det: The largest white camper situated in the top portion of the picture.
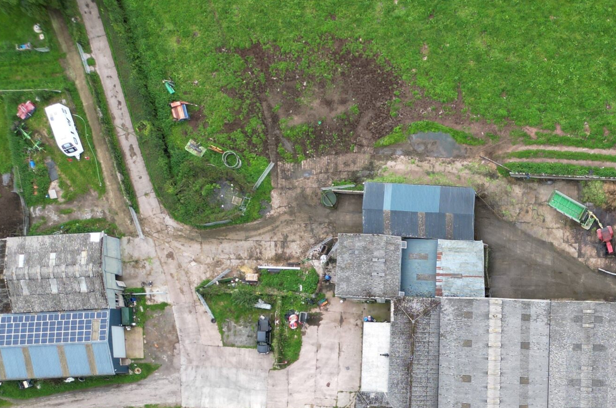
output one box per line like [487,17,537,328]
[44,101,82,160]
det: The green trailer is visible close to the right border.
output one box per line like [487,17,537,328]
[547,190,597,230]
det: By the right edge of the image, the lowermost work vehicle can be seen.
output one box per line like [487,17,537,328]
[595,224,616,255]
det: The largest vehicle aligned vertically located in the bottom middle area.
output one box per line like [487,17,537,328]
[257,319,273,356]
